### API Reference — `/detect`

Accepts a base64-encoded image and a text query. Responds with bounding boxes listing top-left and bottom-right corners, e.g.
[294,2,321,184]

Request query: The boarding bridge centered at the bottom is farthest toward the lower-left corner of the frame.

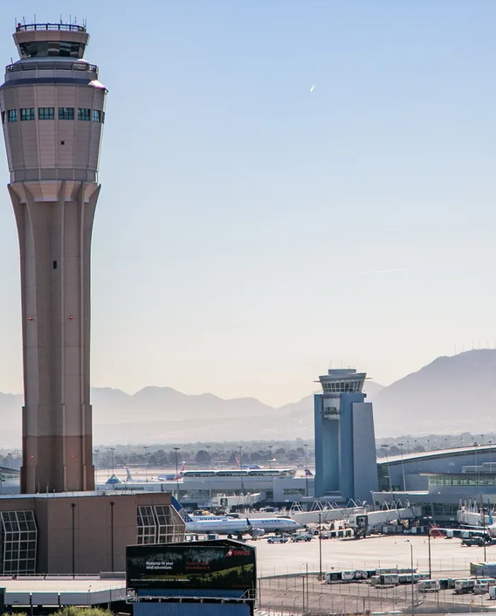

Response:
[211,488,270,516]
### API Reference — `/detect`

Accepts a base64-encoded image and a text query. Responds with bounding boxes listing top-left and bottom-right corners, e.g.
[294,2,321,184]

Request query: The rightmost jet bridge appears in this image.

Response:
[453,494,496,533]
